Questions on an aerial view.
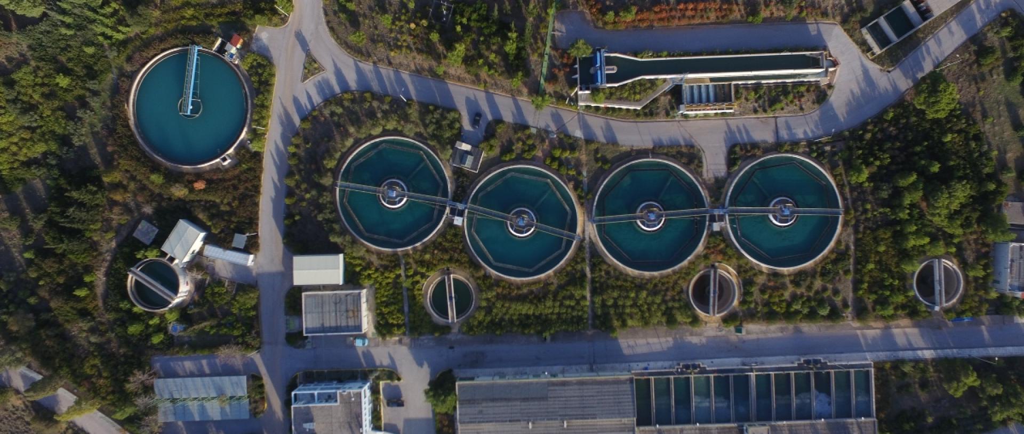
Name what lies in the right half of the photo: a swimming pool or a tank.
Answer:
tank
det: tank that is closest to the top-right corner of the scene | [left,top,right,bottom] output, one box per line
[858,0,963,60]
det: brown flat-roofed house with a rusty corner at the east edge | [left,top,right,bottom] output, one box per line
[993,201,1024,229]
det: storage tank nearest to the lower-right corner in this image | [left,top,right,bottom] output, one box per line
[906,253,964,311]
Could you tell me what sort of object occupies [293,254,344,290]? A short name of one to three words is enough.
shed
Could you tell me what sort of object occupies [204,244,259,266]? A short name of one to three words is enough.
building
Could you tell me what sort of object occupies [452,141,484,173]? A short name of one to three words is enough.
building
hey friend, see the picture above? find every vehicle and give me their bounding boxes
[473,113,482,129]
[354,338,369,346]
[387,399,404,408]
